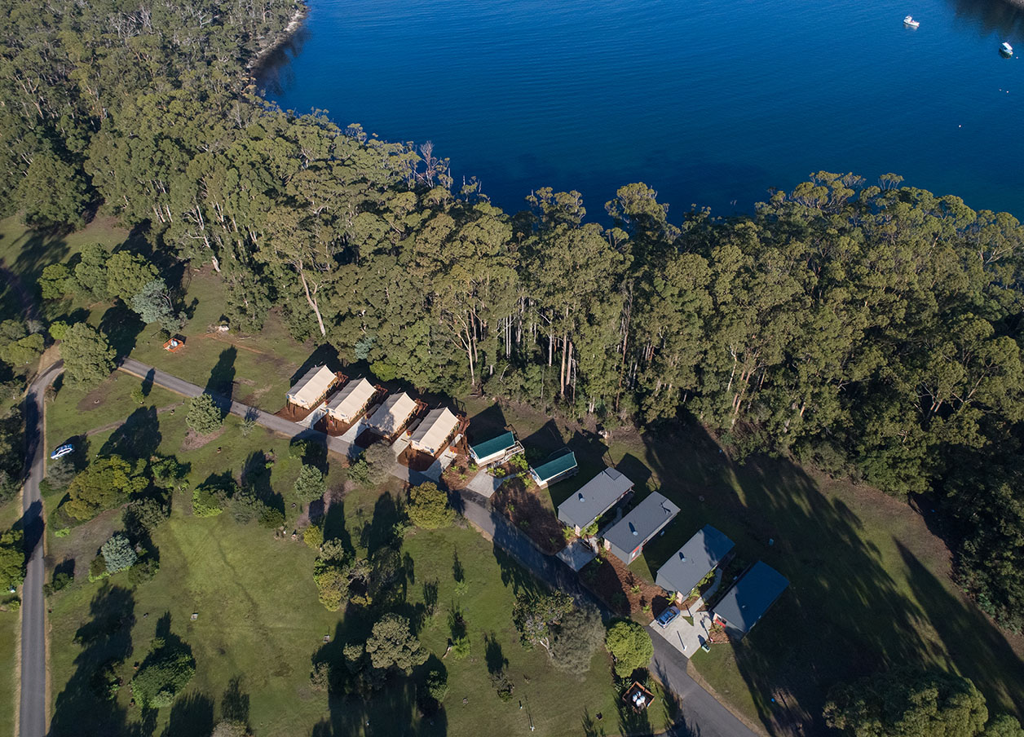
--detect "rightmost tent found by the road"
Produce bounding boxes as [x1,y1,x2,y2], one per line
[406,406,467,467]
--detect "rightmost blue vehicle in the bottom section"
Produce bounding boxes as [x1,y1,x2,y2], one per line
[654,603,683,628]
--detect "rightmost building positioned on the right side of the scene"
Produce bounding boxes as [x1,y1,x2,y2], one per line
[711,560,790,644]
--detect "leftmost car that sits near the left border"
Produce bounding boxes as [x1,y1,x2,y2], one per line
[48,443,76,459]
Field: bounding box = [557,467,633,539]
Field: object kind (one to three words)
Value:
building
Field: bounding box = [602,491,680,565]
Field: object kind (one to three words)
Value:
building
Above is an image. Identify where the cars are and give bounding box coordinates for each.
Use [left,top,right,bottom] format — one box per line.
[654,603,683,628]
[48,443,76,459]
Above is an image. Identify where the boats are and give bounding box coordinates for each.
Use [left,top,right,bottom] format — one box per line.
[998,42,1016,53]
[902,15,921,25]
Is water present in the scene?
Yes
